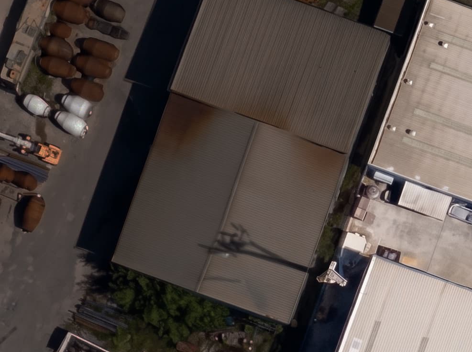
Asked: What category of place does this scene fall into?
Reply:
industrial area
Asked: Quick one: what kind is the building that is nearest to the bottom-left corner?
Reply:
warehouse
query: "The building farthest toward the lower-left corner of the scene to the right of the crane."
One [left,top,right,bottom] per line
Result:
[111,92,352,324]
